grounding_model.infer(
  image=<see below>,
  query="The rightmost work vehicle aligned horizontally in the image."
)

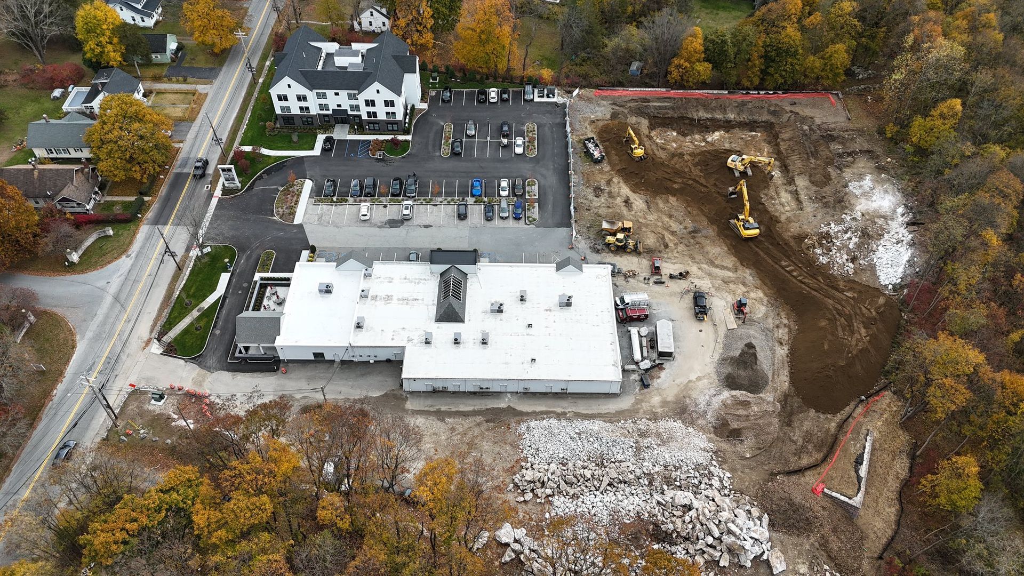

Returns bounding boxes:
[729,151,778,176]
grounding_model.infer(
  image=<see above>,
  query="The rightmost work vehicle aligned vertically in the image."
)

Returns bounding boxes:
[732,184,762,244]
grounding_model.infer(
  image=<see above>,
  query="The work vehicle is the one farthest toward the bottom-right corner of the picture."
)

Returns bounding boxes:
[732,302,754,324]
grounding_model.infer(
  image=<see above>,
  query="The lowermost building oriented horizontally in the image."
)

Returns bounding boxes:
[230,243,624,395]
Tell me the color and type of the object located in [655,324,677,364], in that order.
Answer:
white trailer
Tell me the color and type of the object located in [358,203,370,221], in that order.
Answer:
white vehicle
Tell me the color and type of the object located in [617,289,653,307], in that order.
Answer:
white vehicle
